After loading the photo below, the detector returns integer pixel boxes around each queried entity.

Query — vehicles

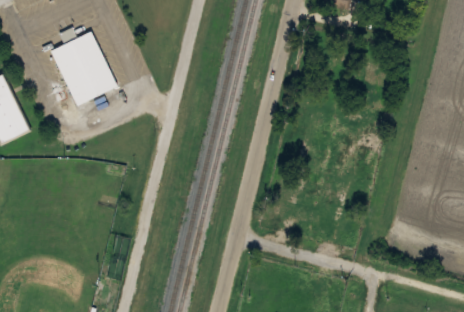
[43,44,54,51]
[270,71,275,82]
[75,26,85,34]
[120,90,127,101]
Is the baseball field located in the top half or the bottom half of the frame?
bottom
